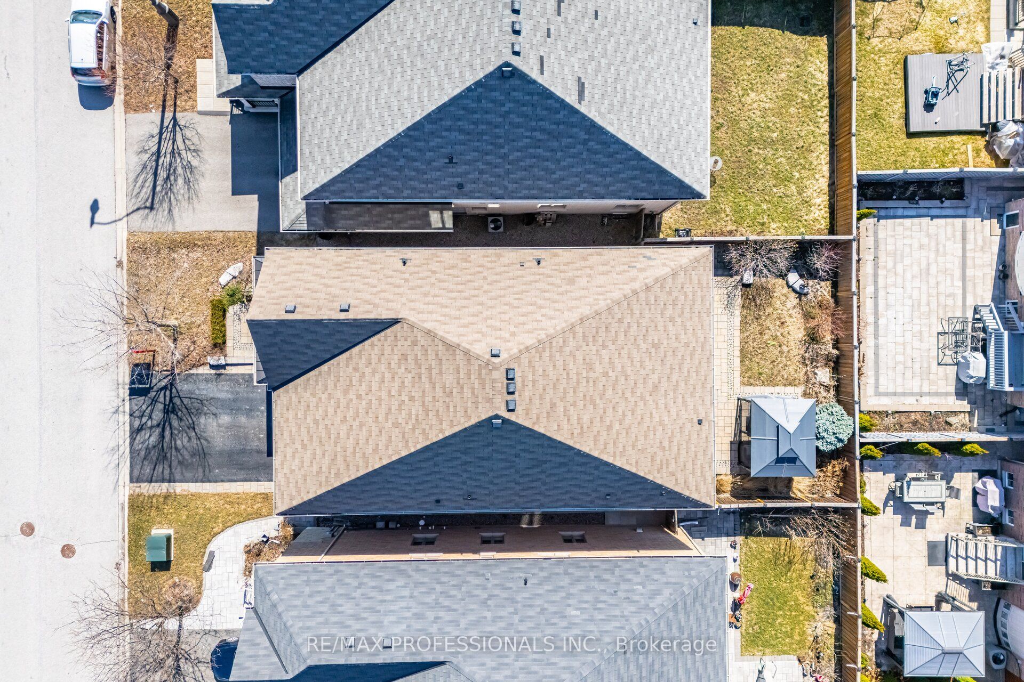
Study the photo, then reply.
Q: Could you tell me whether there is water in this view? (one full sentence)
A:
No, there's no water in this view.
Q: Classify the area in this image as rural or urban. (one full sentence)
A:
This place is urban.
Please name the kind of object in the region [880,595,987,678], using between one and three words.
gazebo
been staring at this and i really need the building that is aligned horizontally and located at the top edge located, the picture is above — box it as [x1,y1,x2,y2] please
[207,0,717,233]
